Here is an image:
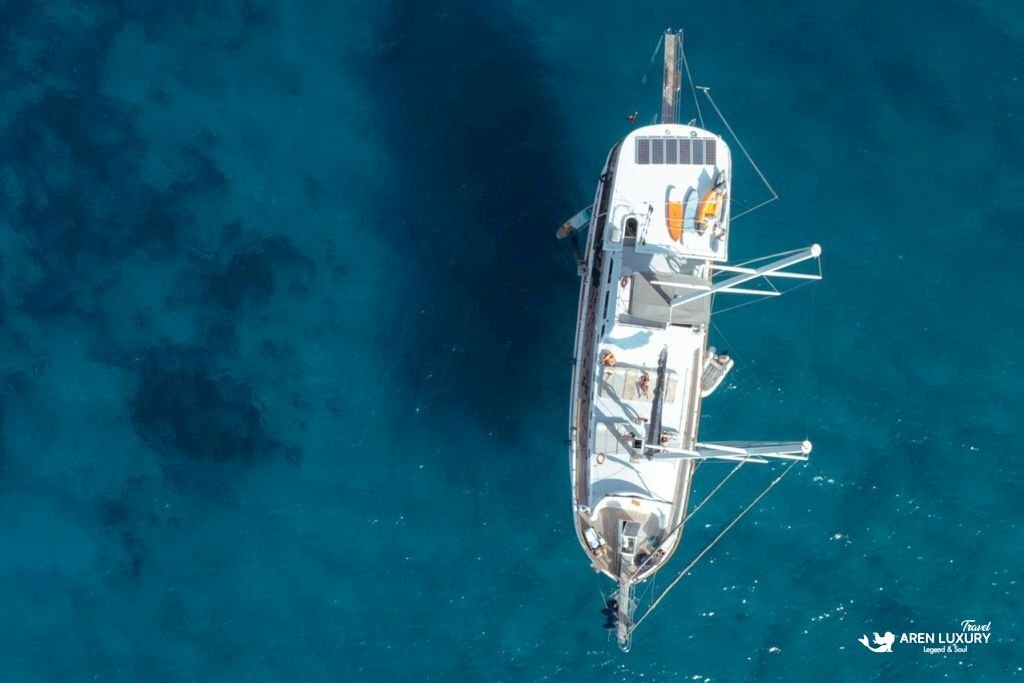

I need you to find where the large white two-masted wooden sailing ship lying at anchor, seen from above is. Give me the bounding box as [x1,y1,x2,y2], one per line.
[564,27,824,652]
